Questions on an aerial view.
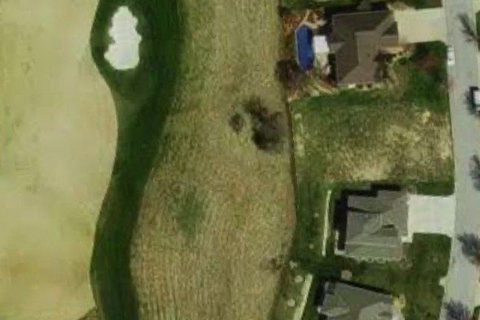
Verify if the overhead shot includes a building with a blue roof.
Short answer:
No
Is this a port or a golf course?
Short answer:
golf course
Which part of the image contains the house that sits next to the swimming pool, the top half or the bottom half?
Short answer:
top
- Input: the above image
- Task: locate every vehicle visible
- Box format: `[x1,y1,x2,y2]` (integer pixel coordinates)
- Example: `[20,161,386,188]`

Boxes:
[446,46,455,66]
[473,90,480,113]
